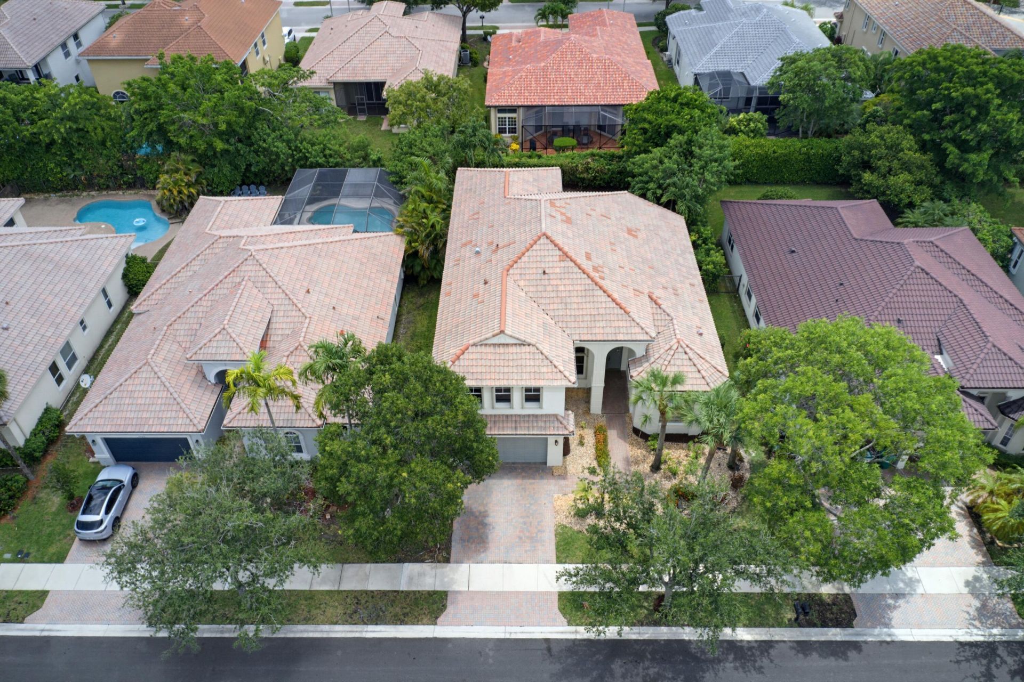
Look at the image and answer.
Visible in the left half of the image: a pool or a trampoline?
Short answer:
pool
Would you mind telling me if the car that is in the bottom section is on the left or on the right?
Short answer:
left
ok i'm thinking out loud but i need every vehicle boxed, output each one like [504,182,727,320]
[282,25,297,49]
[65,466,137,544]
